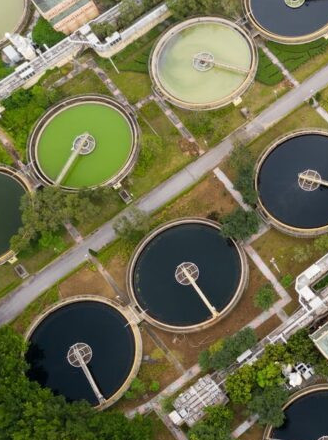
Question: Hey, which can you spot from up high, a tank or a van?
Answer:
tank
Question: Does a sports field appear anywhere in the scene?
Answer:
No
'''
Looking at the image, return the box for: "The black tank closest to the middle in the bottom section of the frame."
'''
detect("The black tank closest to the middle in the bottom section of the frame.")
[127,217,247,333]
